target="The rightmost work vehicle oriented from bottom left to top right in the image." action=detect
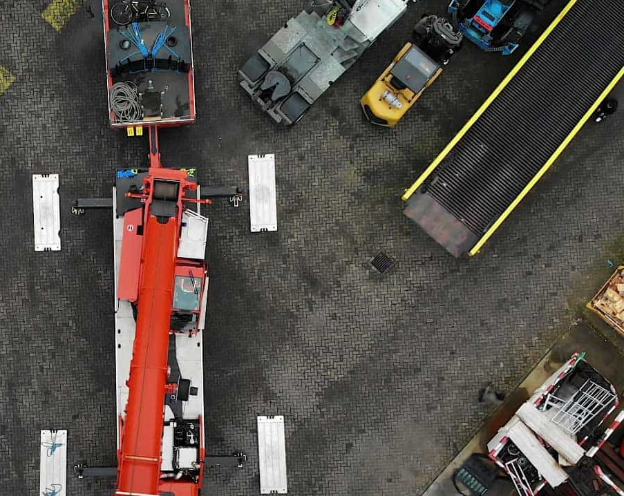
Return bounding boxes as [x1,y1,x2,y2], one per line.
[360,14,463,127]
